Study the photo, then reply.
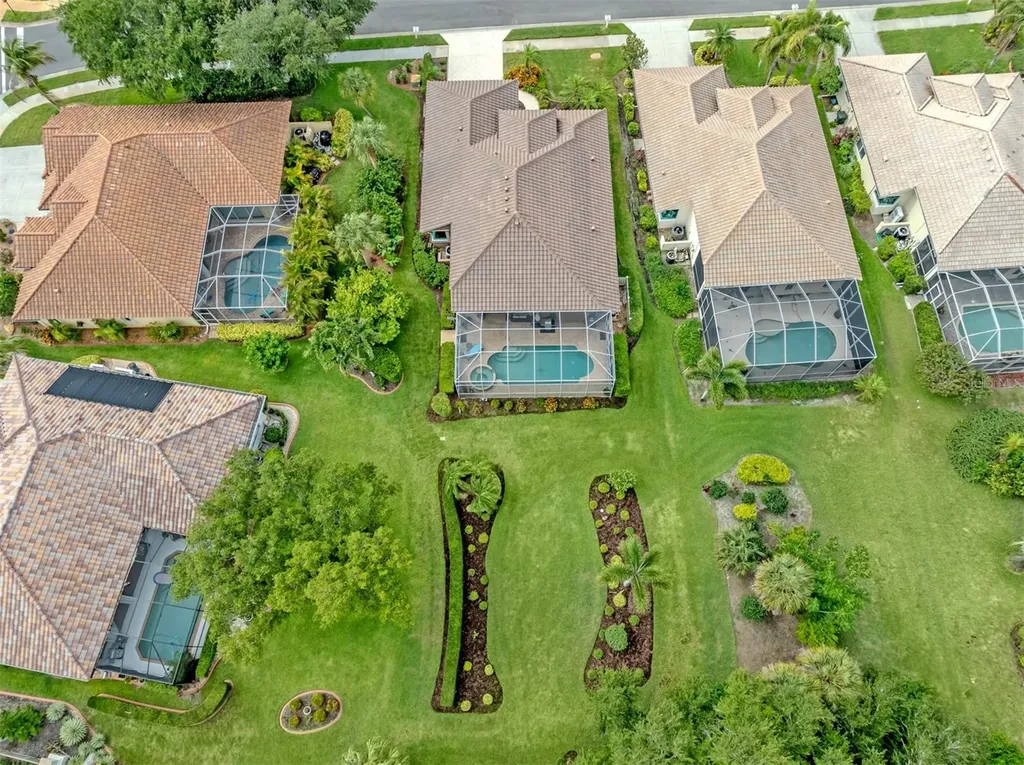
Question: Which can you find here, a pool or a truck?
pool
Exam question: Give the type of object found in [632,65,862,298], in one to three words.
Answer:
house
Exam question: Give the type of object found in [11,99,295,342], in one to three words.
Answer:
house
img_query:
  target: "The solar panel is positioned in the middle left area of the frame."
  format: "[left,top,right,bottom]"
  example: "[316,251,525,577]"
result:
[44,366,173,412]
